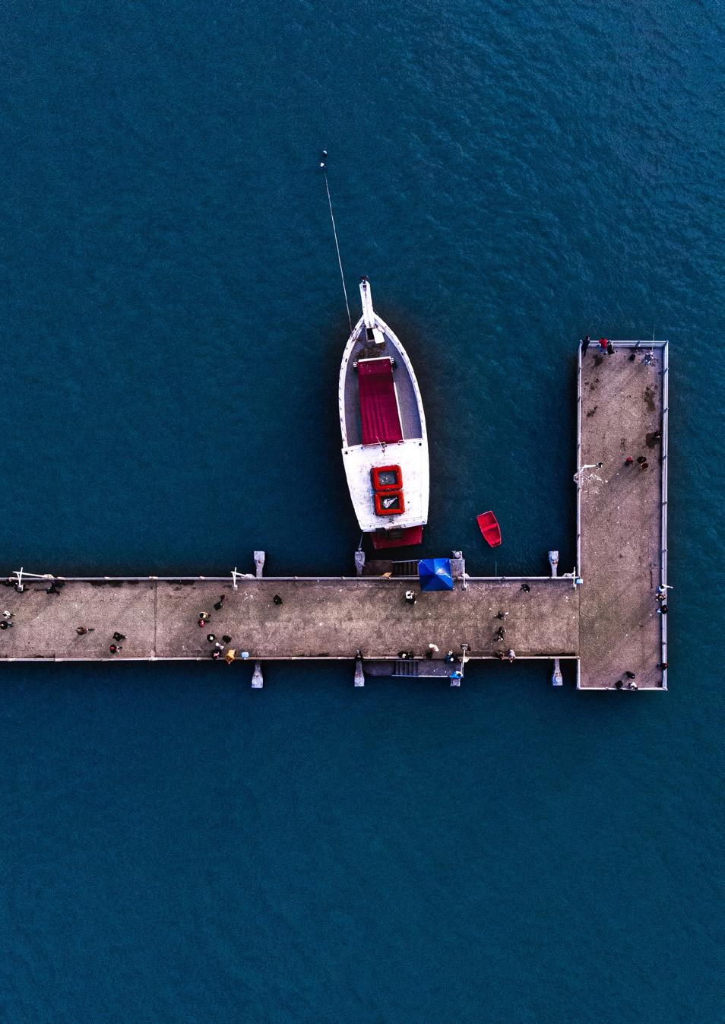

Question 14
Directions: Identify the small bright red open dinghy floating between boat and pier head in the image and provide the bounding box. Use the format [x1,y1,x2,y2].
[477,511,501,547]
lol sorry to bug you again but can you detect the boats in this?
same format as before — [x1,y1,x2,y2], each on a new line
[339,276,429,549]
[477,511,501,547]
